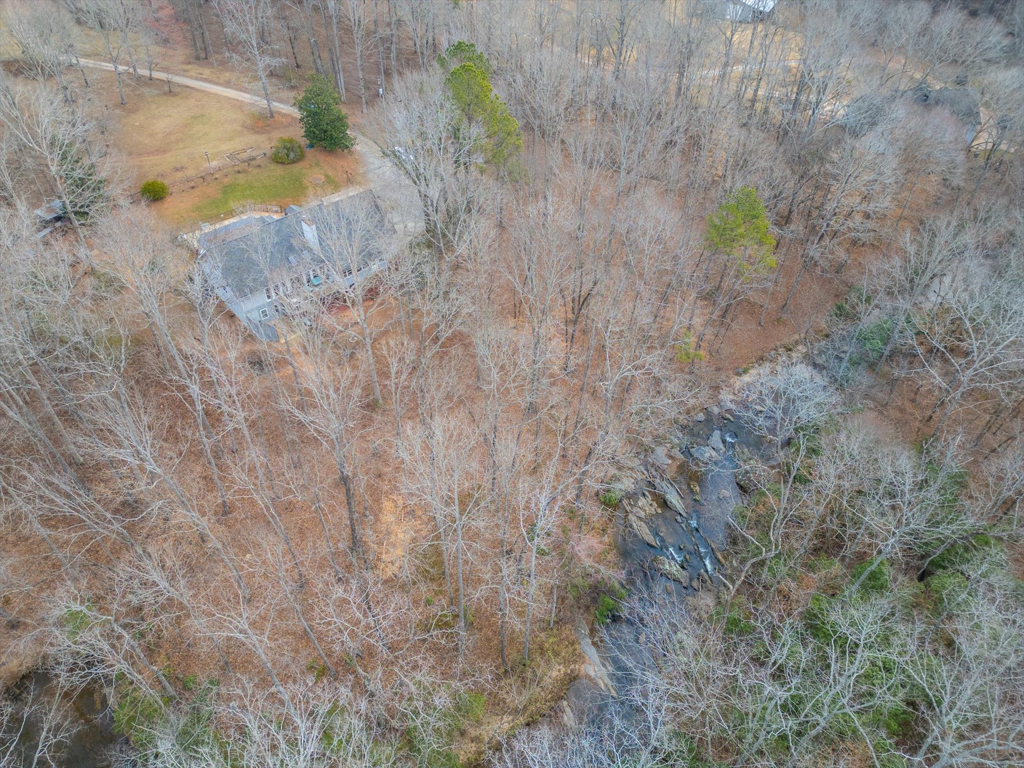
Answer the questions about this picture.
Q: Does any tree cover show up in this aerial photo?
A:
Yes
